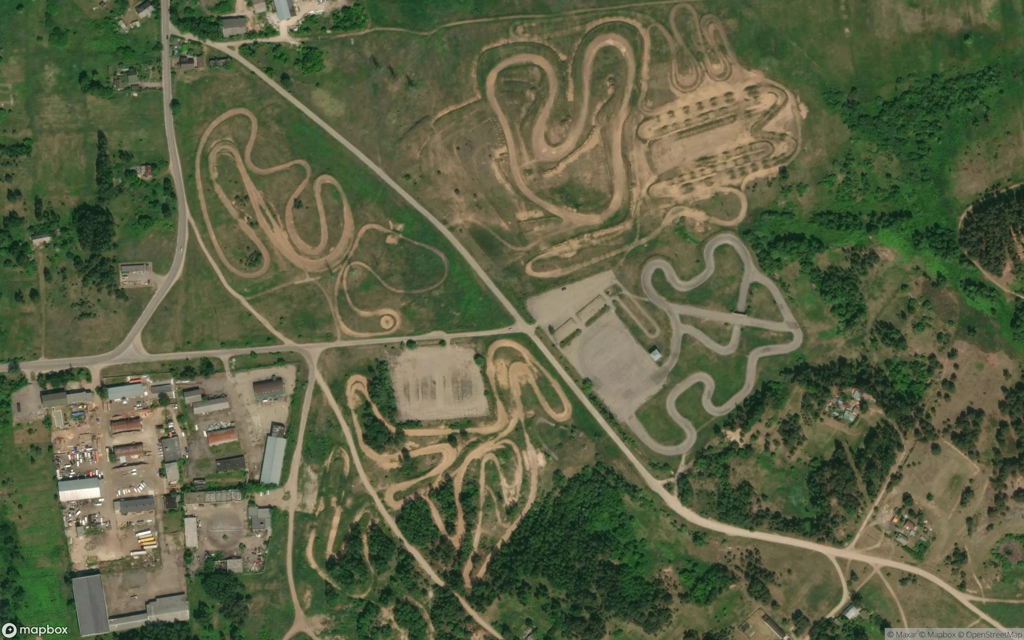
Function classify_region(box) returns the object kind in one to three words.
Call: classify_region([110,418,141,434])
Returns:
shed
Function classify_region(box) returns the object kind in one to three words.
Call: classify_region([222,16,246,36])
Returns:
house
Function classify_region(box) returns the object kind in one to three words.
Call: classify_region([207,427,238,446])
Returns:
barn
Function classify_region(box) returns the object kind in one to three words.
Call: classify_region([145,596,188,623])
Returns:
building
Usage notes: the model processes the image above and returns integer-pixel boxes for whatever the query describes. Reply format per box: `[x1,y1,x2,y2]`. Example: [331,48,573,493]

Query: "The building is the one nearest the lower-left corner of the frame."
[71,574,109,637]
